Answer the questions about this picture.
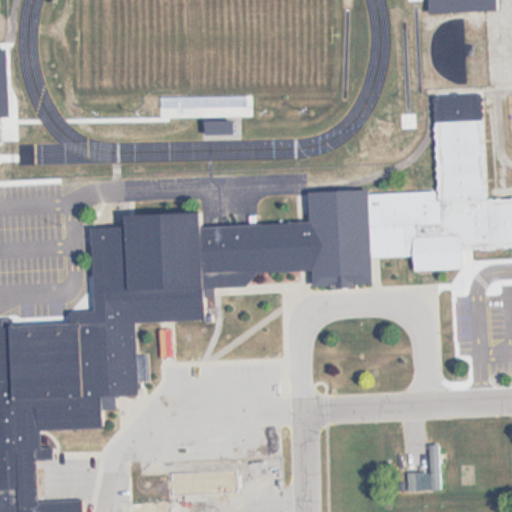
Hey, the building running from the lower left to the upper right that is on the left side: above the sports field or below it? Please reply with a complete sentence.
Looking at the scene, the building running from the lower left to the upper right that is on the left side is located below the sports field.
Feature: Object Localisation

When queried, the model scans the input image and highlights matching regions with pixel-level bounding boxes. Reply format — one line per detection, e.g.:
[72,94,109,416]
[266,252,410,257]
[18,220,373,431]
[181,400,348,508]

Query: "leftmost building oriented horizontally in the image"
[204,119,233,134]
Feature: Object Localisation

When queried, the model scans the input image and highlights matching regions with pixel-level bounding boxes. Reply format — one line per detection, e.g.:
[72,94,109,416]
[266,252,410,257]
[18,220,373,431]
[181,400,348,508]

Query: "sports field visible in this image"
[75,0,345,94]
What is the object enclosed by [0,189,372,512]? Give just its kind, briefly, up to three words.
building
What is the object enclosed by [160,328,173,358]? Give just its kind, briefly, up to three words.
shed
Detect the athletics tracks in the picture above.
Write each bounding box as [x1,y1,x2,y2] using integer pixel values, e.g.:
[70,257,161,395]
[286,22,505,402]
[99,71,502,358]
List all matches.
[20,0,390,166]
